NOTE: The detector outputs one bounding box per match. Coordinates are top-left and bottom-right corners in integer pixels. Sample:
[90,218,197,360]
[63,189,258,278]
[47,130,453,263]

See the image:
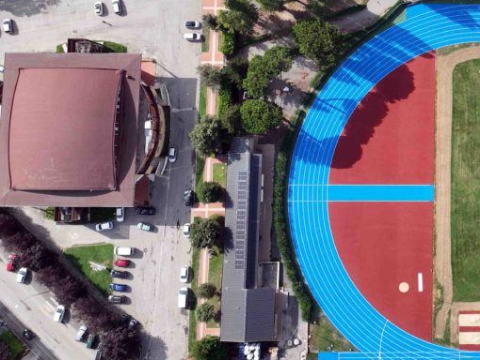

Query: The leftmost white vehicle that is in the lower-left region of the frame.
[16,265,30,285]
